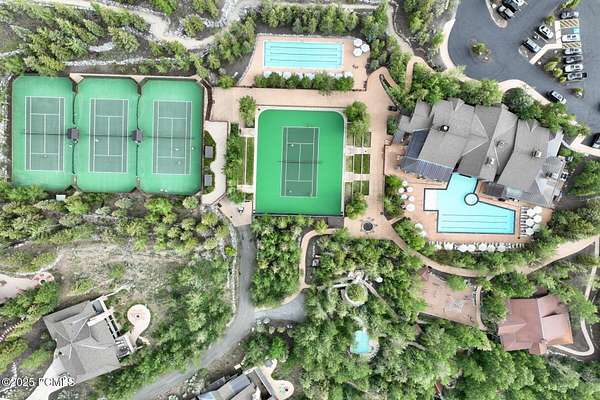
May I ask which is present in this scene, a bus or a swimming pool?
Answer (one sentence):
The one in the frame is a swimming pool.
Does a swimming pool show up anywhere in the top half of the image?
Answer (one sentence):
Yes, the scene does show a swimming pool in the top half of the image.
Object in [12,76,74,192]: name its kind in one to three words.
tennis court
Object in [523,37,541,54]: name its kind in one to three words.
car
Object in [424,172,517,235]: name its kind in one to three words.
swimming pool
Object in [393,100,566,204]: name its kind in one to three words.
building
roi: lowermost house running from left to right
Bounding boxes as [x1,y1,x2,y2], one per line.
[196,365,275,400]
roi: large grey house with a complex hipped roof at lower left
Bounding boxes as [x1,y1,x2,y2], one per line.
[43,289,125,380]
